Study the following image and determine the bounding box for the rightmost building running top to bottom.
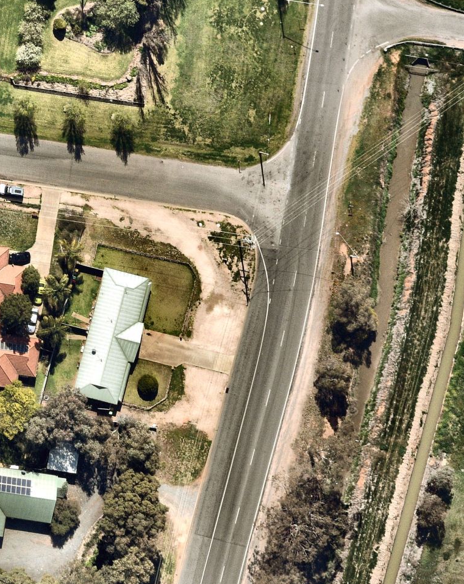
[74,266,152,405]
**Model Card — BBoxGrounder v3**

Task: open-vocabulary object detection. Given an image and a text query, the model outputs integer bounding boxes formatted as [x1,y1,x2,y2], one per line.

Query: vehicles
[34,279,49,306]
[26,307,40,329]
[9,250,32,265]
[0,185,26,200]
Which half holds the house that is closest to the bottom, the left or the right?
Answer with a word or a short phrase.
left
